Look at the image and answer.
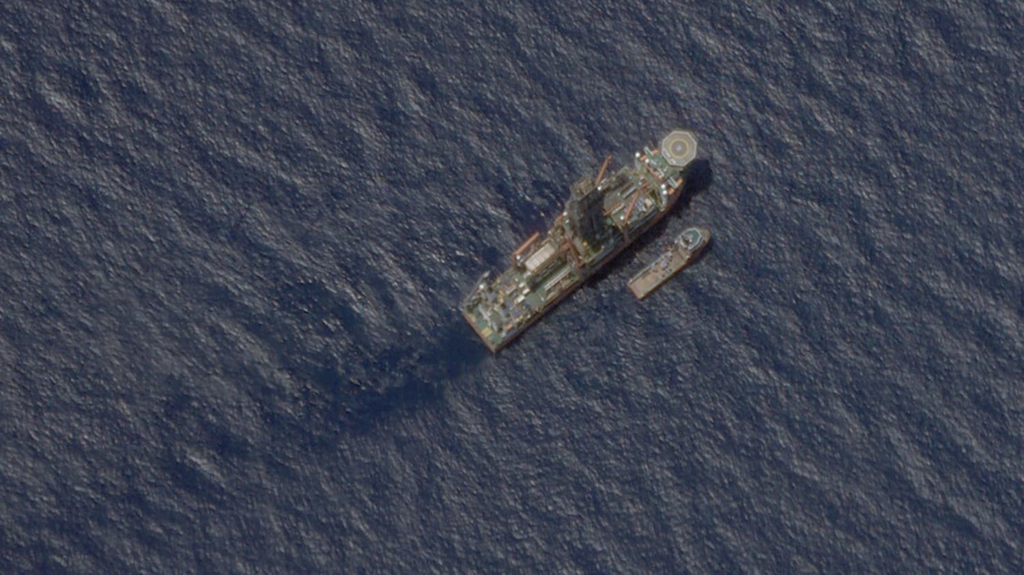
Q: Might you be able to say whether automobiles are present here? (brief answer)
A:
No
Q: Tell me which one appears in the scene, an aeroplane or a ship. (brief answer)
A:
ship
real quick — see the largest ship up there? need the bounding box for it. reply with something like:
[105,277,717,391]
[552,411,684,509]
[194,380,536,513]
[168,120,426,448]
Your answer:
[463,129,698,352]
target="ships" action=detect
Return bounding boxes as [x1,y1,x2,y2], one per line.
[628,226,709,301]
[463,129,698,352]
